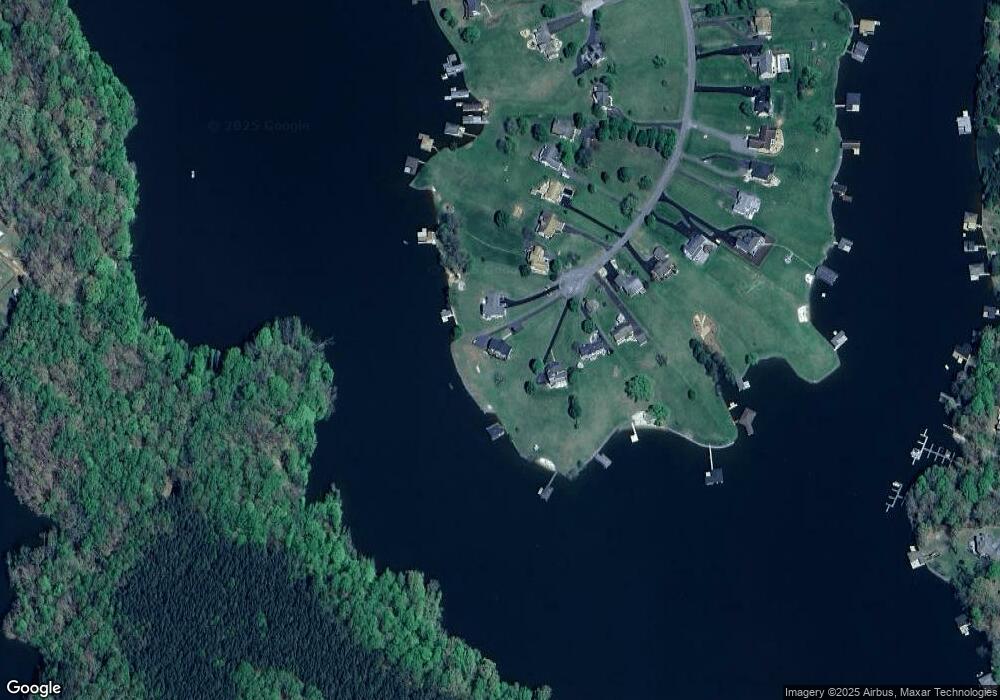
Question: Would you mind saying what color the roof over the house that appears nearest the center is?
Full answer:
The color of the roof on the house that appears nearest the center is blue.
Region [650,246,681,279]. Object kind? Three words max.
house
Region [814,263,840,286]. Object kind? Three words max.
building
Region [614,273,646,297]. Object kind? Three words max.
house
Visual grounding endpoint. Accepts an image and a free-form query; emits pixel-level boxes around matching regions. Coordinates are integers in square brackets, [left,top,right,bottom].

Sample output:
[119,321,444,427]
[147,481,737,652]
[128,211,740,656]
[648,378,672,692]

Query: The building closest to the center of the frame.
[483,336,514,359]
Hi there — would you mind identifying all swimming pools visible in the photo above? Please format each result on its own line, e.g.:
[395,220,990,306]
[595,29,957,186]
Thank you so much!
[777,54,791,72]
